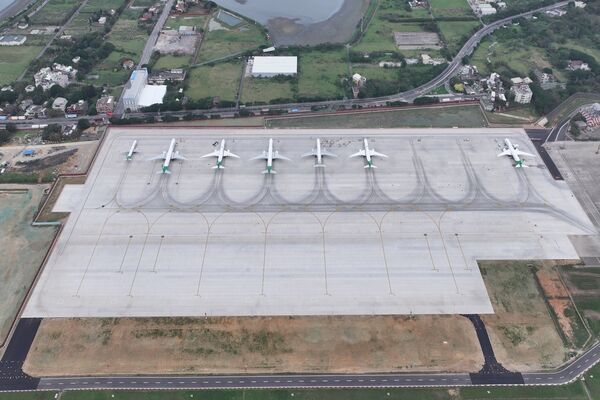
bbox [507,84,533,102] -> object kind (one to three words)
building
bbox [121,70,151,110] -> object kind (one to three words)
building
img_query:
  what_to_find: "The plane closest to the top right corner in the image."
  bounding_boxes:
[496,138,535,168]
